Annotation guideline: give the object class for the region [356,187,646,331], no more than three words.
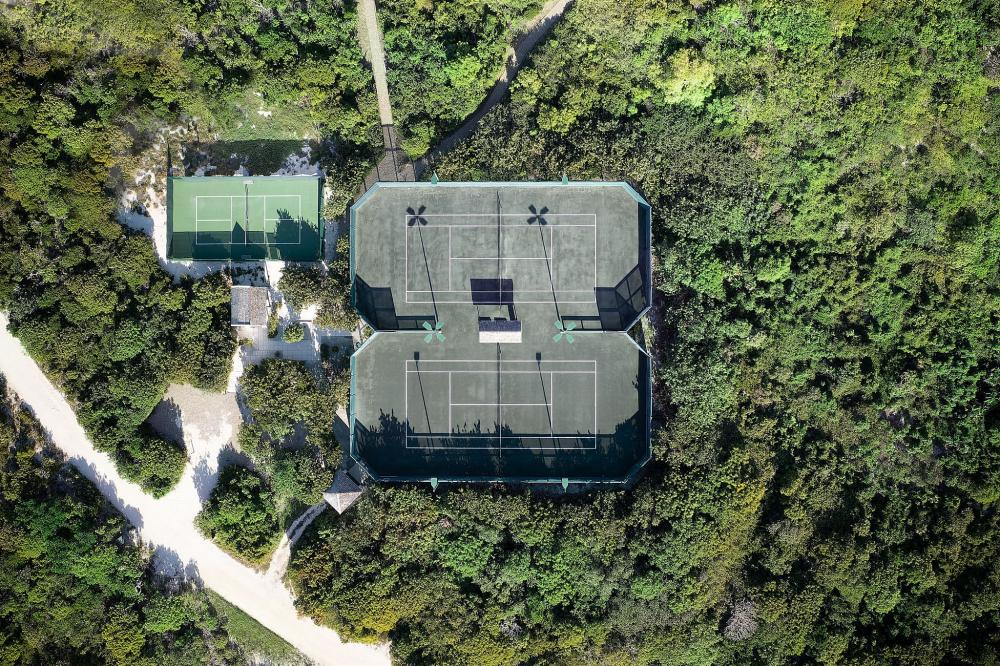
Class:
tennis court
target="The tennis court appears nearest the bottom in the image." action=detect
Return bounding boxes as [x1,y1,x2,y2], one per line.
[357,331,646,478]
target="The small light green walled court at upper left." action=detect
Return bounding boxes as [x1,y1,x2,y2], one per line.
[175,181,323,262]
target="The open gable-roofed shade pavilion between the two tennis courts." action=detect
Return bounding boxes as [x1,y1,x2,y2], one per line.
[479,320,522,343]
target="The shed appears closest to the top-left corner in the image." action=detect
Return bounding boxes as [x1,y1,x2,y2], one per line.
[231,285,273,326]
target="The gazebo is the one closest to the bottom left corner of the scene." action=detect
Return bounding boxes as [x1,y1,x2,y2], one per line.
[322,469,364,515]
